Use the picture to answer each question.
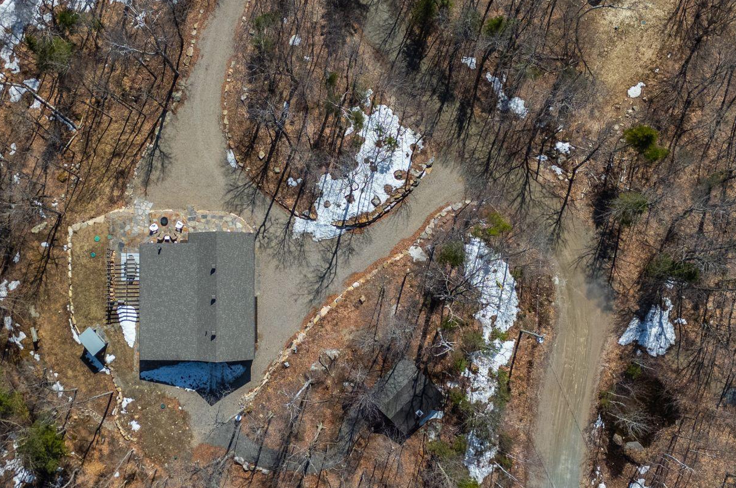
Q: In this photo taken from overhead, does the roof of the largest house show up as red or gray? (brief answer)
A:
gray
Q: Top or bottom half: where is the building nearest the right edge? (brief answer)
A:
bottom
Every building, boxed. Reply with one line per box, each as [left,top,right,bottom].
[78,327,111,355]
[365,359,442,434]
[139,230,256,367]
